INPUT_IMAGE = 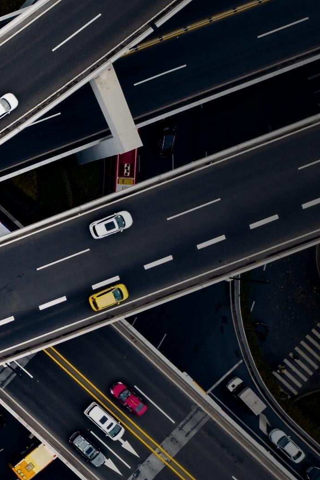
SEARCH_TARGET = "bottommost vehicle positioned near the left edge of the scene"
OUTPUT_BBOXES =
[7,438,57,480]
